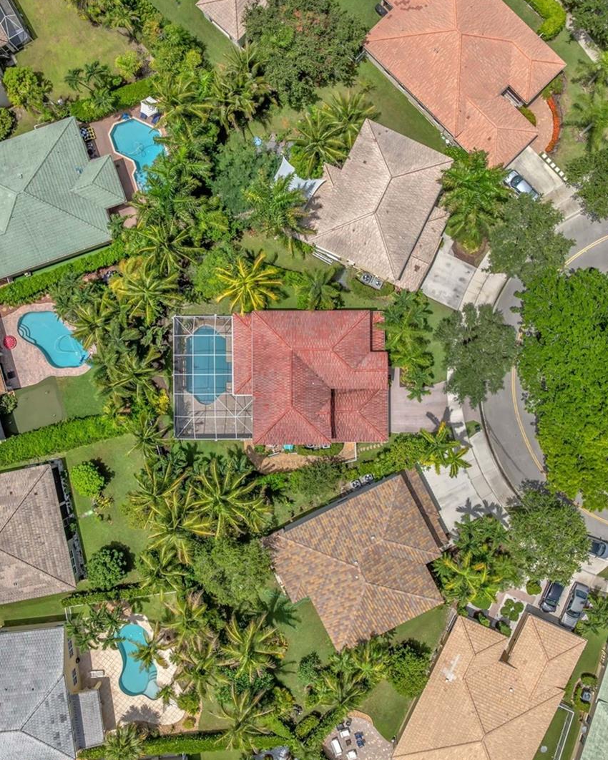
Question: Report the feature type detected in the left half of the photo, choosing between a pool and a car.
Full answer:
What appears in the left half of the photo is a pool.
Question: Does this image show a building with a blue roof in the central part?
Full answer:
No, there is no building with a blue roof in the central part.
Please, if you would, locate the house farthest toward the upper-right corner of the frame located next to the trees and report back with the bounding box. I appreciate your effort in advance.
[365,0,567,169]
